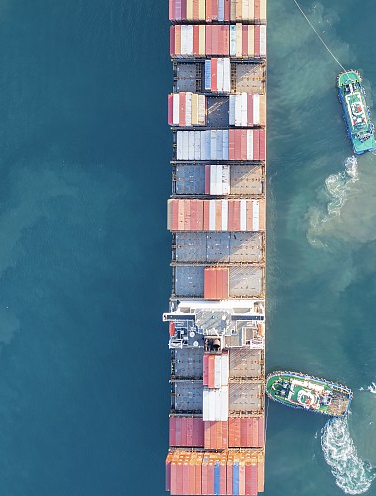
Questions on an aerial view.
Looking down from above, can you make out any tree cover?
No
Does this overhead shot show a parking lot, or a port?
port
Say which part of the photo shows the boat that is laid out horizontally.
bottom right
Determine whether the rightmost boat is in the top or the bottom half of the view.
top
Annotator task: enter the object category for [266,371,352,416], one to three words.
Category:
boat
